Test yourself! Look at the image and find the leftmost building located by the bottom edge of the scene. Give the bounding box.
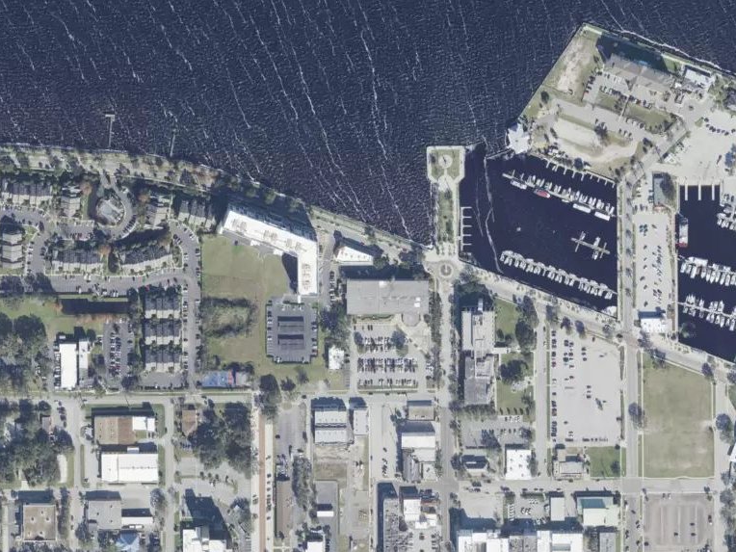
[24,502,56,541]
